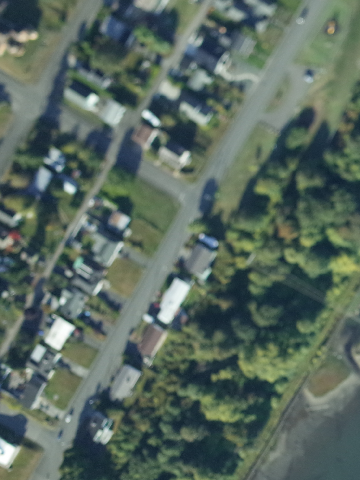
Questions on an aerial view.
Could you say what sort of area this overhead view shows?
residential area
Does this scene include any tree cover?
Yes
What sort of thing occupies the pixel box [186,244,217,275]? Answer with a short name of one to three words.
house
